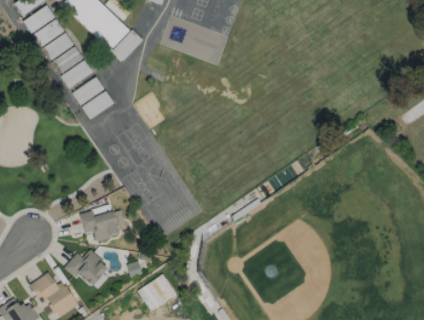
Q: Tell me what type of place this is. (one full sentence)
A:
This looks like a sports ground.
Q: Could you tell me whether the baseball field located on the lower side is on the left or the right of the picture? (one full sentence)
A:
The baseball field located on the lower side is on the right side of the image.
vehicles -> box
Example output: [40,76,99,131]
[0,293,6,304]
[26,213,40,219]
[60,224,72,229]
[58,252,70,262]
[54,220,65,226]
[170,300,182,310]
[62,246,73,257]
[70,220,82,225]
[1,288,10,300]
